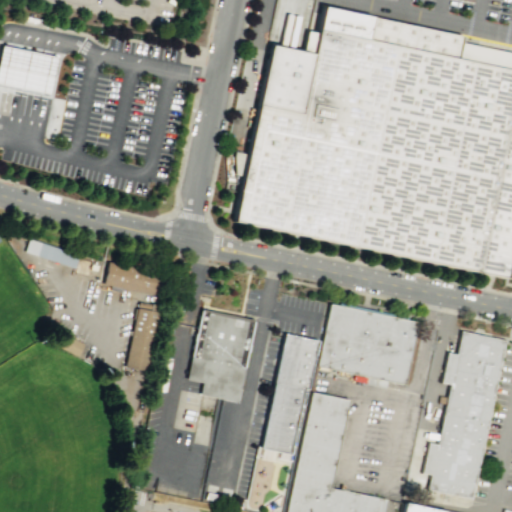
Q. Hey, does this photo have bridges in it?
No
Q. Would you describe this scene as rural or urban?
urban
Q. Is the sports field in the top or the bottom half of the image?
bottom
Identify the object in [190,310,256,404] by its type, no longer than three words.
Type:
building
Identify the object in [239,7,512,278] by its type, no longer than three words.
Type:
warehouse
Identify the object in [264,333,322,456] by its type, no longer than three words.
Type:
building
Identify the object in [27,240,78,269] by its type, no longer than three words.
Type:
shed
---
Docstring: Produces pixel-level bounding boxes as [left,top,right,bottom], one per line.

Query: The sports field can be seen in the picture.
[0,240,126,512]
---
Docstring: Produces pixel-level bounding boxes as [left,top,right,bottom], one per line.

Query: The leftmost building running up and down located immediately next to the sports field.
[126,304,158,372]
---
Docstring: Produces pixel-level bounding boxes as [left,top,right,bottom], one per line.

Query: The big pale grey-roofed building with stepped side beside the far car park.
[424,330,506,497]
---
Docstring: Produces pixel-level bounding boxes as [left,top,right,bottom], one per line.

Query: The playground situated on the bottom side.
[243,460,287,510]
